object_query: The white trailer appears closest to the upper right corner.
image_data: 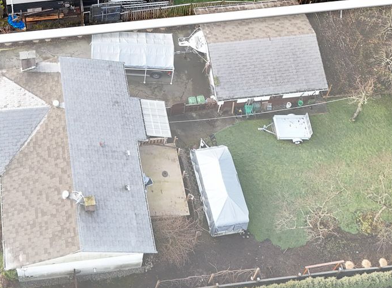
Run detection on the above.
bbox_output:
[246,111,318,145]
